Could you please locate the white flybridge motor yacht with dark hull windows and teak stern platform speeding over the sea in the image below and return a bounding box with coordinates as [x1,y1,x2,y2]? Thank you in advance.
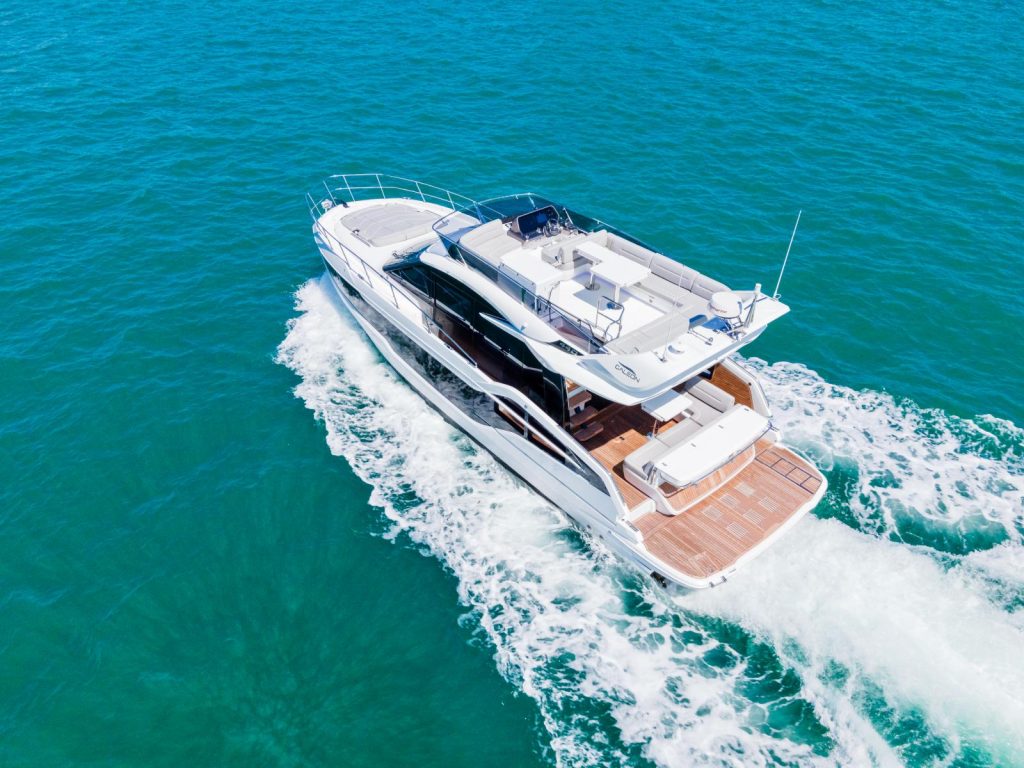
[304,173,833,593]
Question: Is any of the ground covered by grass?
No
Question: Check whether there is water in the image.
Yes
